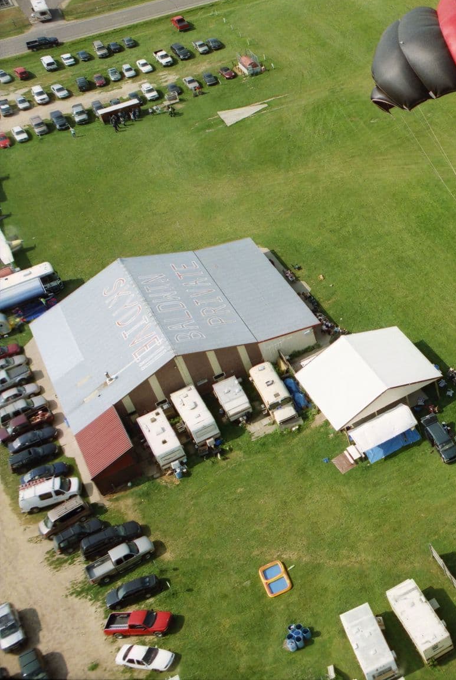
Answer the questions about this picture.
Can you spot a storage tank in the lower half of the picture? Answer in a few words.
No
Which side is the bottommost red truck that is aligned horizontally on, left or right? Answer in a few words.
left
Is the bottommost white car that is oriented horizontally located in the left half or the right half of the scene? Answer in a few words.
left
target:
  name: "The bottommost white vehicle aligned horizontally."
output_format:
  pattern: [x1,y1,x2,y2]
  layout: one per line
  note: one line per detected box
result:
[111,643,181,675]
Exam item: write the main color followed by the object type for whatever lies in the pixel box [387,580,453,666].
white camper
